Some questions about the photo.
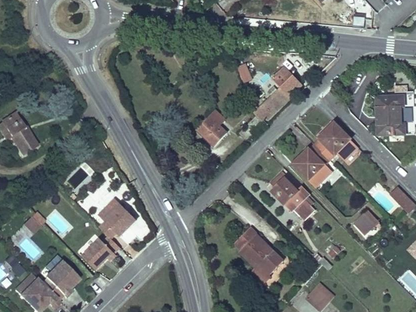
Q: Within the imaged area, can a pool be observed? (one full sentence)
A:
Yes, a pool can be made out from above.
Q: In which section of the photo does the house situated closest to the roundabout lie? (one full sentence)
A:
The house situated closest to the roundabout sits in the left section of the image.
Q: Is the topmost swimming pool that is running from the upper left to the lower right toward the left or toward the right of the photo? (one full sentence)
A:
The topmost swimming pool that is running from the upper left to the lower right sits on the right side.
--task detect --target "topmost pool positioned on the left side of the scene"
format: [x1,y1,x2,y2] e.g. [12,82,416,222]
[64,165,94,193]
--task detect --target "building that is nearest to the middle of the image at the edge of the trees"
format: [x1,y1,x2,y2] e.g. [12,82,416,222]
[198,110,230,148]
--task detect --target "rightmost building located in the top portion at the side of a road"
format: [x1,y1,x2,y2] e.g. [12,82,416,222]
[374,93,416,138]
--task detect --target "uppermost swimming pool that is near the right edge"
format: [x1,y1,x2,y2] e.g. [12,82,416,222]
[368,184,400,215]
